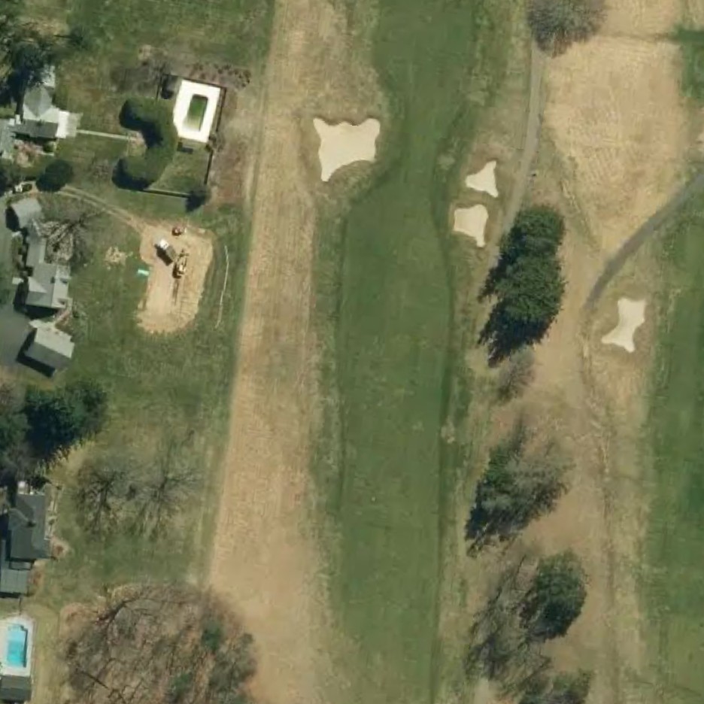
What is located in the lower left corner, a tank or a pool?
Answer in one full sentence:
The feature located in the lower left corner is a pool.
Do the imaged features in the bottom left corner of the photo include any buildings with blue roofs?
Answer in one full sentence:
No, there's no building with a blue roof to be seen in the bottom left corner of the photo.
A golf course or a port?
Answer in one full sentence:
What you see here is a golf course.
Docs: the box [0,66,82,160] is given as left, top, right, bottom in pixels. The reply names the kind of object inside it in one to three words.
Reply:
house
